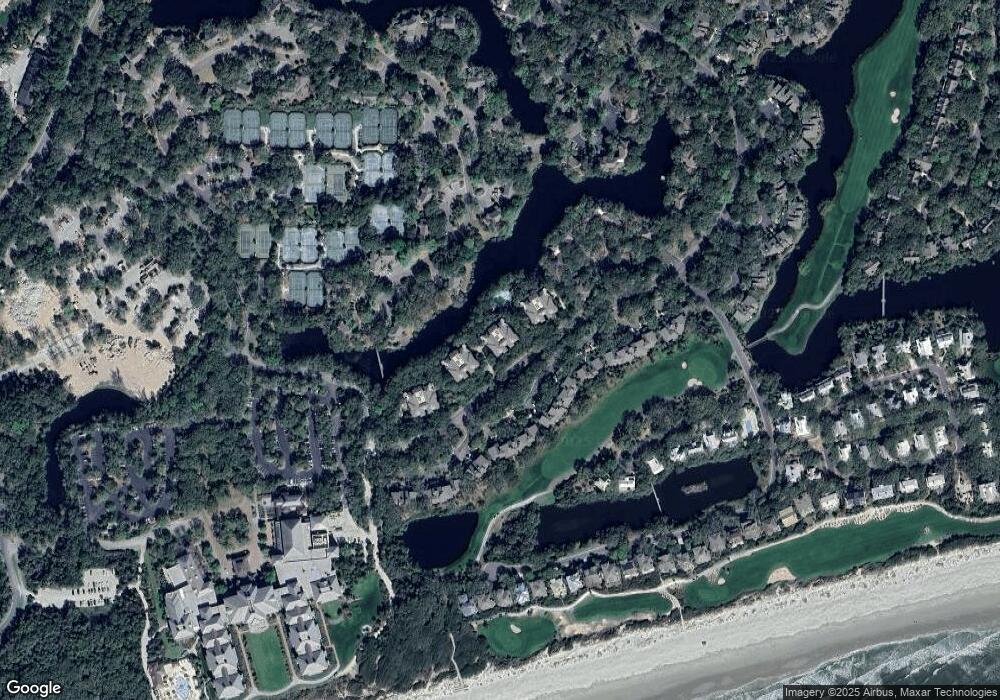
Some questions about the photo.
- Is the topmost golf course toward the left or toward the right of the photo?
right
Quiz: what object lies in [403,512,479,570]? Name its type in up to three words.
pond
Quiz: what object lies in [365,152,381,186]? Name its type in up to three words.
tennis court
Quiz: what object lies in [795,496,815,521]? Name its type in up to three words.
house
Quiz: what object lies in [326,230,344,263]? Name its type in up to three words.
tennis court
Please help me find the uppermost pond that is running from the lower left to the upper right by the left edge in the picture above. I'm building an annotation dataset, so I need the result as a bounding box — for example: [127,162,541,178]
[47,388,140,508]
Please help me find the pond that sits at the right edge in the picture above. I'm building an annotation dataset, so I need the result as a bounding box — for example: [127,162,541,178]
[744,0,1000,390]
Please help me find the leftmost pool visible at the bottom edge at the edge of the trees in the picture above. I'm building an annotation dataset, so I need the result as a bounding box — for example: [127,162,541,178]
[153,657,204,700]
